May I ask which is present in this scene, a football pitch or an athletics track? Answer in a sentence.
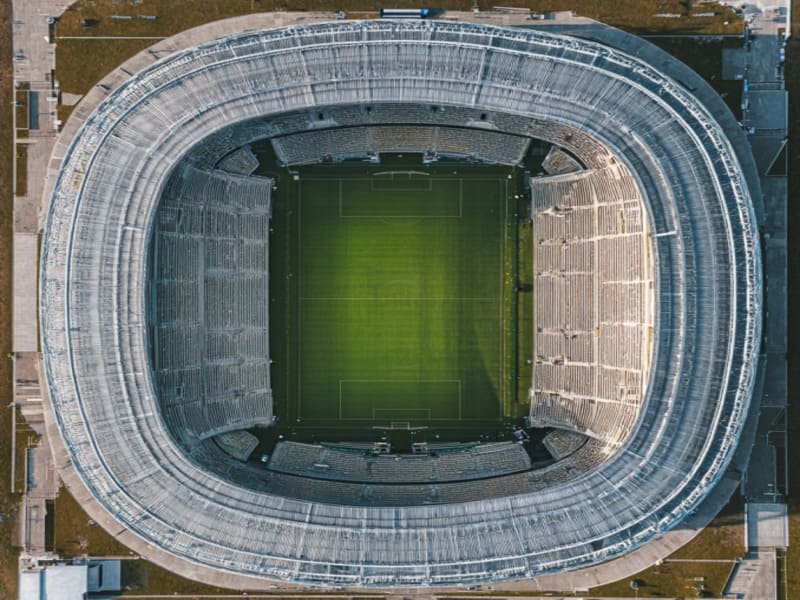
Looking from above, you can make out a football pitch.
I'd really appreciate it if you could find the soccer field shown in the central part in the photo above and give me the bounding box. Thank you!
[287,168,505,433]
